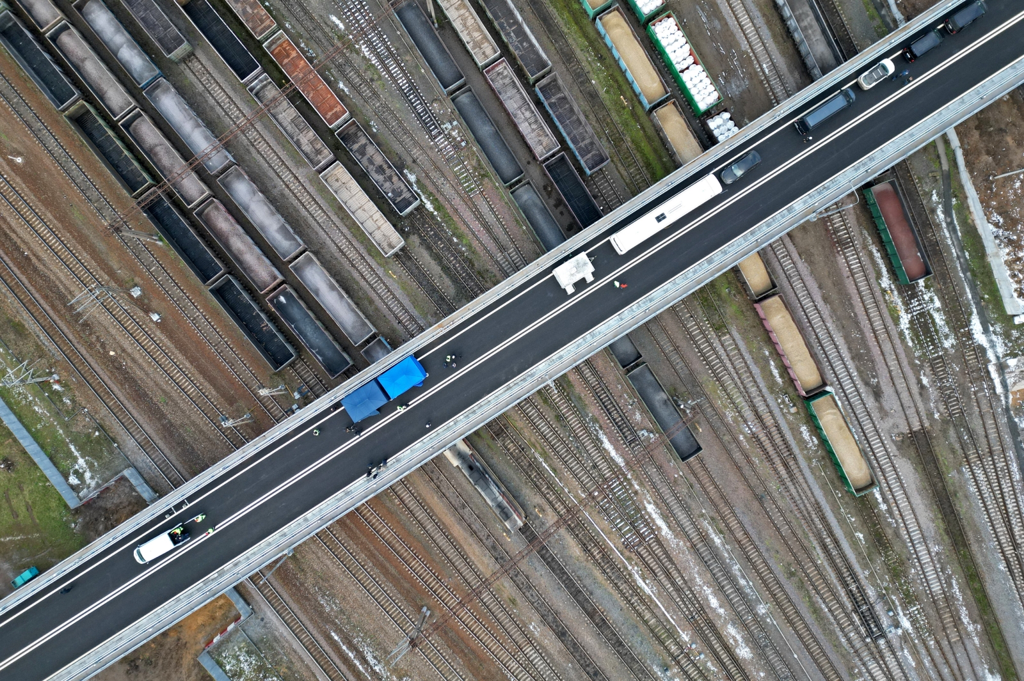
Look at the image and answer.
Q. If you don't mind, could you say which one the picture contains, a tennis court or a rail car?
rail car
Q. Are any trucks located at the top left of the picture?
No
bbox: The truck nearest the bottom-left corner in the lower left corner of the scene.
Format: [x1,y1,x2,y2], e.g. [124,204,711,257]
[11,564,43,589]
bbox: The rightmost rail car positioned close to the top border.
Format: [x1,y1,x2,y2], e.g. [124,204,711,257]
[767,0,842,84]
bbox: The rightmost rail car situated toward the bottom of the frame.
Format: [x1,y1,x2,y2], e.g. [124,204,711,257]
[802,390,879,497]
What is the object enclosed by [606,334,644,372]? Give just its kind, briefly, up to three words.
rail car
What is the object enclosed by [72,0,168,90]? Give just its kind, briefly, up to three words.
rail car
